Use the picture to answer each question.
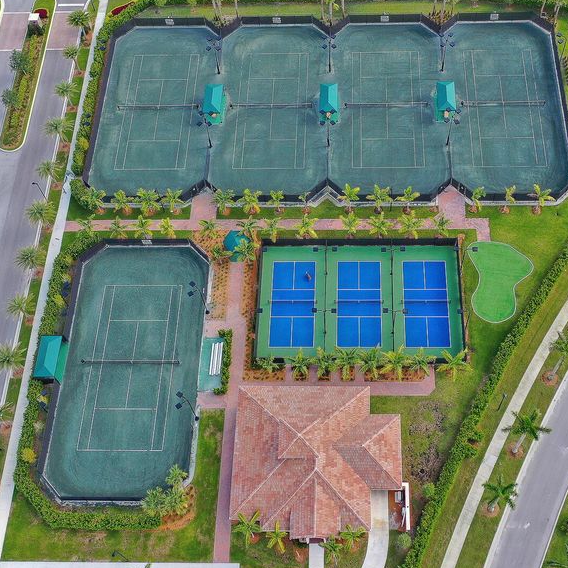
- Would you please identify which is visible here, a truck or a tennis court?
tennis court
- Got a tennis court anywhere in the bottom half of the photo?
Yes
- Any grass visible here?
Yes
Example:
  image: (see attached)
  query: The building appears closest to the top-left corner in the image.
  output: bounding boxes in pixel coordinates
[203,84,227,124]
